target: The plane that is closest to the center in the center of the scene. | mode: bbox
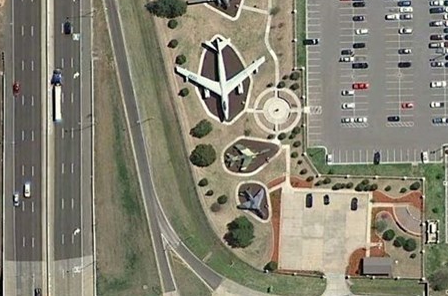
[226,145,271,170]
